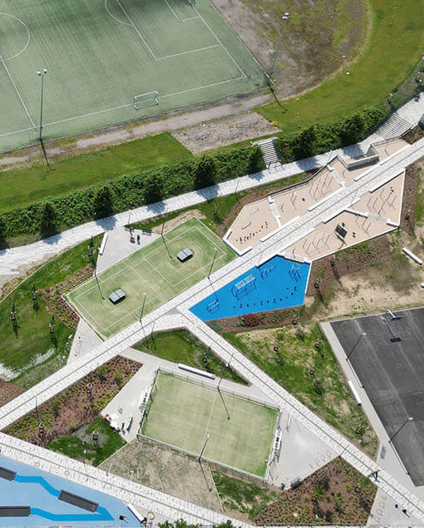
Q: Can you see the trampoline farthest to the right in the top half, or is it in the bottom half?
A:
bottom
